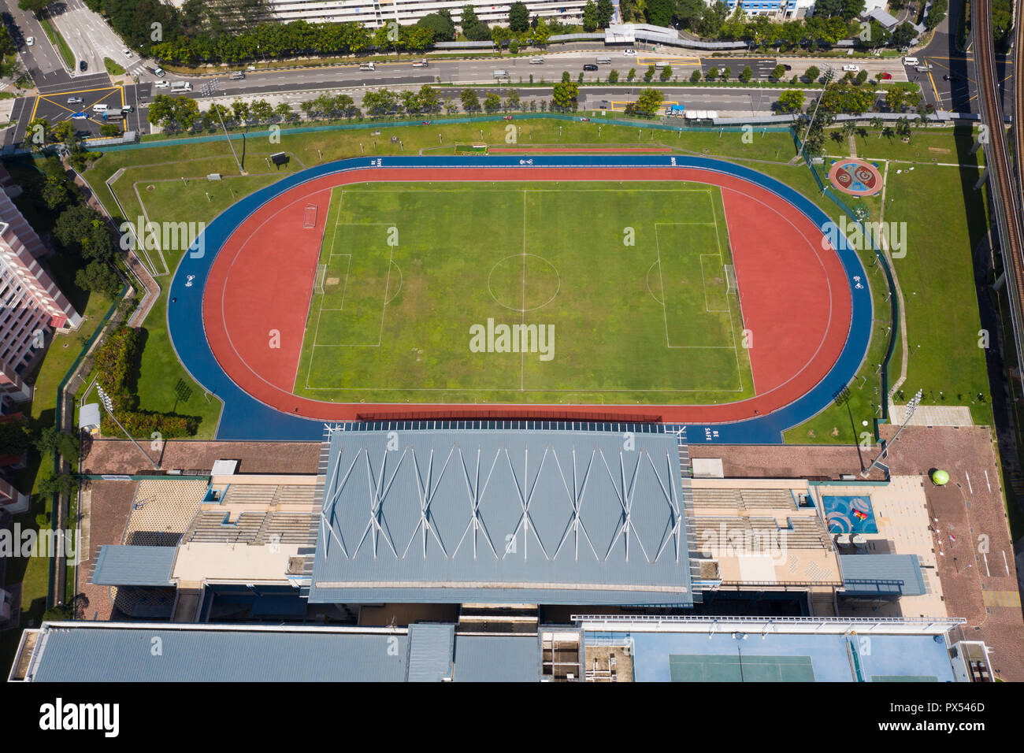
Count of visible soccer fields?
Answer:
1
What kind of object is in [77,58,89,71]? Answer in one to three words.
vehicle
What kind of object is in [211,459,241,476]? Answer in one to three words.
shed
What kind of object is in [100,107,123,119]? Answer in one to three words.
vehicle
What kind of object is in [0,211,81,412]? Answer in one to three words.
building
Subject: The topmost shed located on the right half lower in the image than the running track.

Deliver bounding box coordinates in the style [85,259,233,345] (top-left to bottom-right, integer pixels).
[691,458,724,478]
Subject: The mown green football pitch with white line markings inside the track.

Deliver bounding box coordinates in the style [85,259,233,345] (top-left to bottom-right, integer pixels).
[292,181,757,406]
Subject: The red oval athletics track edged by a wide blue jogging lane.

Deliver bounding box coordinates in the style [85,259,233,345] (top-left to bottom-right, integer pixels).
[166,154,874,444]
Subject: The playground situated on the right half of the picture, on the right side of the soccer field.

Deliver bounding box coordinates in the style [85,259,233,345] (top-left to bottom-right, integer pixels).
[829,159,883,196]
